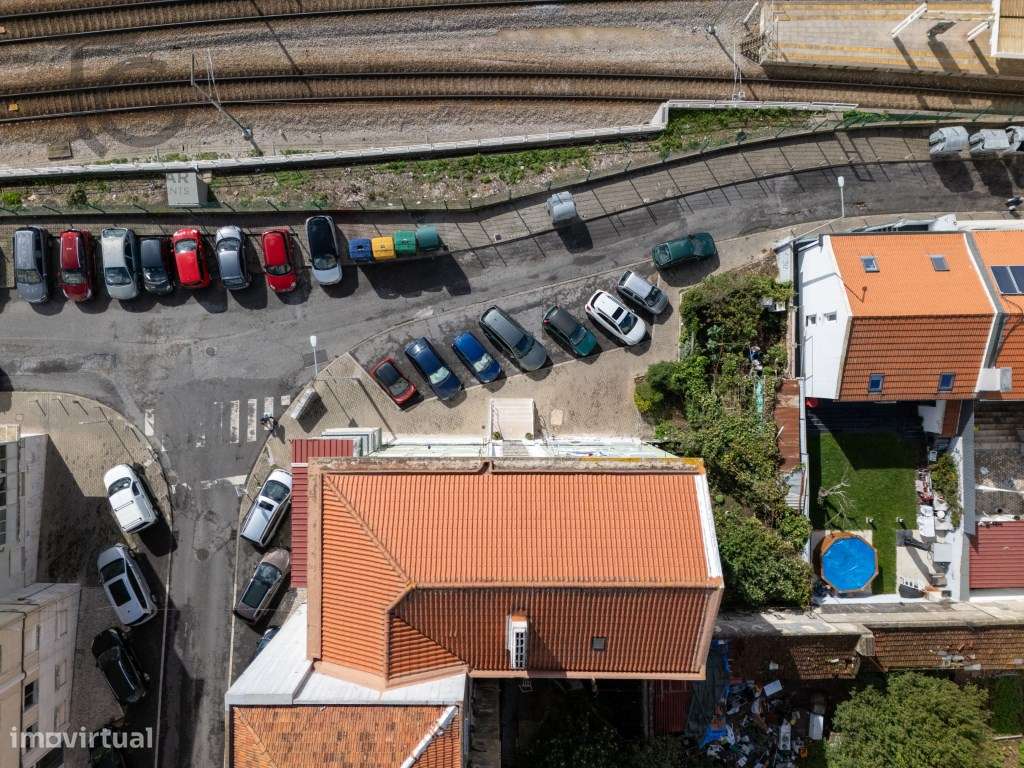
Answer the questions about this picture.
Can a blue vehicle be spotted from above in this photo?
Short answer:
Yes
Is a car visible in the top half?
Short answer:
Yes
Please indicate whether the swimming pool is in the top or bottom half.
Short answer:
bottom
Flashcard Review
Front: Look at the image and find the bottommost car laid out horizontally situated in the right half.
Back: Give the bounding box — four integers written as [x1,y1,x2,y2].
[653,228,721,268]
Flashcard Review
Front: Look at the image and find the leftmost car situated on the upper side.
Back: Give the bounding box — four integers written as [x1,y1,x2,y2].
[9,228,51,303]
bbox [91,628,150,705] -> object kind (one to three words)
car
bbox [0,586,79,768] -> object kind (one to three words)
building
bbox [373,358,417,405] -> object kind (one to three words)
car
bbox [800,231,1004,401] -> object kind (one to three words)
house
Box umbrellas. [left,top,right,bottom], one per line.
[896,531,939,551]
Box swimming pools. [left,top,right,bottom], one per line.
[810,525,881,594]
